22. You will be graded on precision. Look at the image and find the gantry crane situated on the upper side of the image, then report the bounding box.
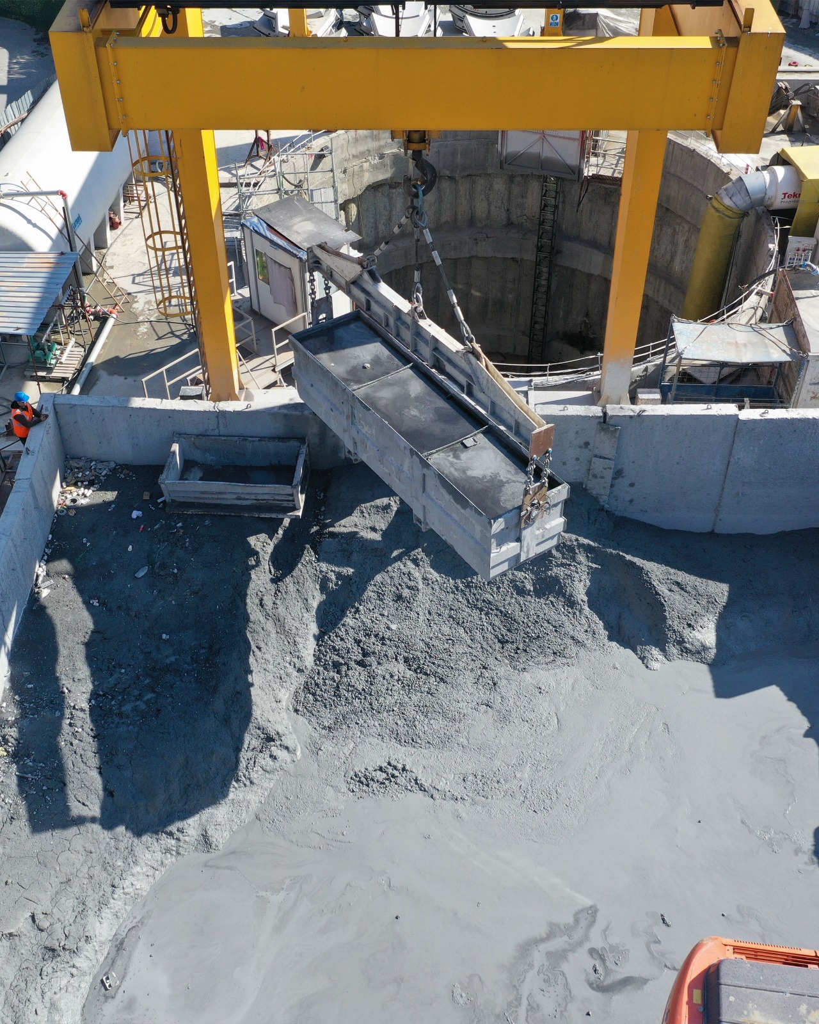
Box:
[44,0,793,416]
